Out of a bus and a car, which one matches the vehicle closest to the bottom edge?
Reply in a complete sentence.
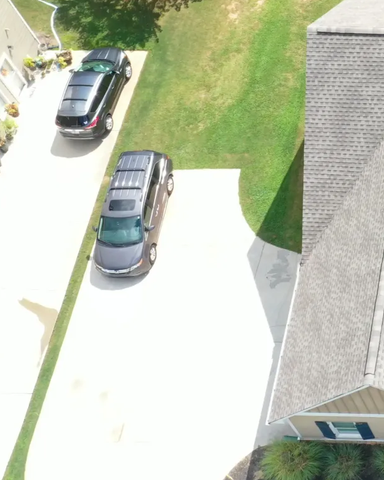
Looking closely, the vehicle closest to the bottom edge is a car.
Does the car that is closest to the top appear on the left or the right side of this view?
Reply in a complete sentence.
It is on the left.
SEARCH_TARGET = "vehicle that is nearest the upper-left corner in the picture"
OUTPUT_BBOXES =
[47,49,132,147]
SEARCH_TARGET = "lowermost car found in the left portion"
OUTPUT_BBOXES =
[83,150,173,289]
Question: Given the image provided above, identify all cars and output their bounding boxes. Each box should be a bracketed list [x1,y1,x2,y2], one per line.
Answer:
[83,150,173,289]
[47,49,132,147]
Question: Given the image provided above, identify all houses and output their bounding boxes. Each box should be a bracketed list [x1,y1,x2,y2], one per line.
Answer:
[264,0,384,445]
[0,0,38,126]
